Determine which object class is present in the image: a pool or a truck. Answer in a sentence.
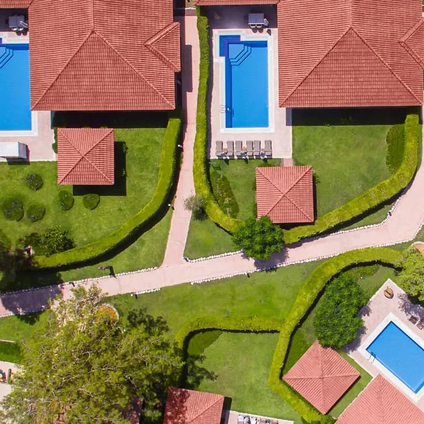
There is a pool in the scene.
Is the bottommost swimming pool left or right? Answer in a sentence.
You can find the bottommost swimming pool on the right side of the picture.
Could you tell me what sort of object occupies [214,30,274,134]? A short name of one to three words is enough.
swimming pool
